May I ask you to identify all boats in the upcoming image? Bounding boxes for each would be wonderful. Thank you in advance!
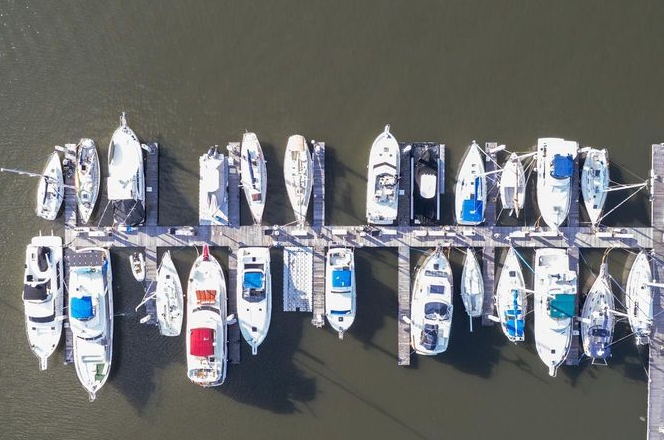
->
[579,246,652,370]
[98,112,149,228]
[136,246,187,335]
[234,244,275,355]
[365,125,401,228]
[24,231,68,371]
[200,149,226,219]
[531,140,578,238]
[184,244,230,385]
[494,245,551,341]
[528,245,576,376]
[453,142,507,228]
[458,247,484,332]
[239,132,269,228]
[577,141,649,229]
[129,251,146,293]
[44,138,102,227]
[495,148,539,228]
[27,245,117,401]
[409,244,454,357]
[623,247,664,381]
[321,238,359,340]
[281,135,315,230]
[1,152,68,224]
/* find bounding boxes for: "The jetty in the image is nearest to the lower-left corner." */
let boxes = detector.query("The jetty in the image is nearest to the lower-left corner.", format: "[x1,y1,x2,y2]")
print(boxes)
[63,247,75,365]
